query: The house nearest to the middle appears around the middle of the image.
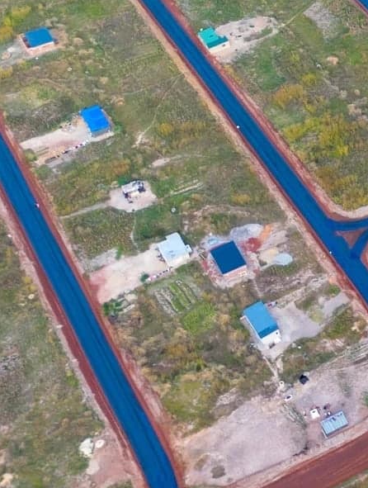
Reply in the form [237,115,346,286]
[160,231,201,268]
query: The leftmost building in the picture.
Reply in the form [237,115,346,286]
[29,25,57,52]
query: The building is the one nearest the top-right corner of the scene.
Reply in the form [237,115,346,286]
[201,23,229,52]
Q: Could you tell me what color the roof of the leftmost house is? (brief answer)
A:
blue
